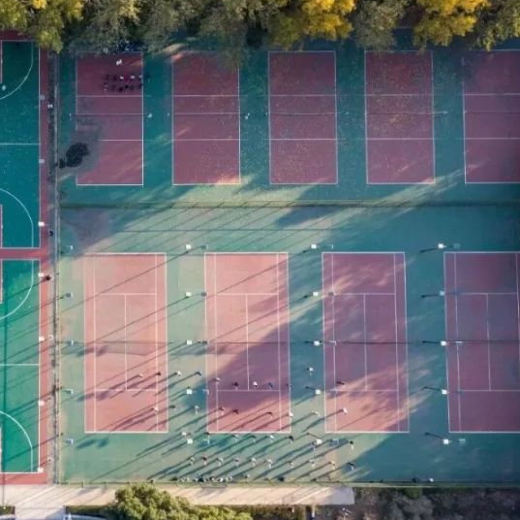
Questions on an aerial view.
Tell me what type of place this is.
sports ground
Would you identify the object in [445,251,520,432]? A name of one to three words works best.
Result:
tennis court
